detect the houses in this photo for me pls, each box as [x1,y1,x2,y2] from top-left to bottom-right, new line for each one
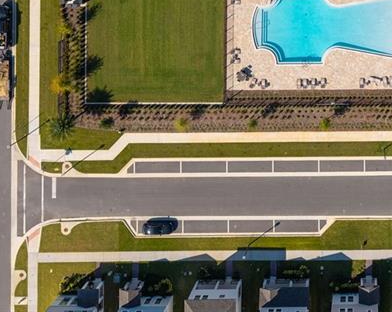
[256,278,309,312]
[329,278,380,312]
[173,278,241,312]
[38,279,99,312]
[111,279,169,312]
